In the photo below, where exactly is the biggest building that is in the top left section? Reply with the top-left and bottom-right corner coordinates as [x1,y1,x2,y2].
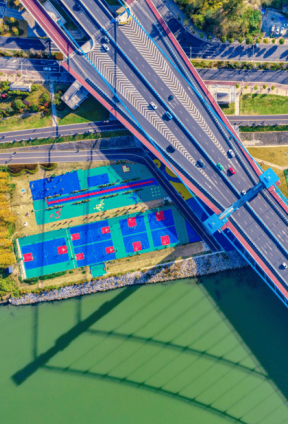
[61,79,91,110]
